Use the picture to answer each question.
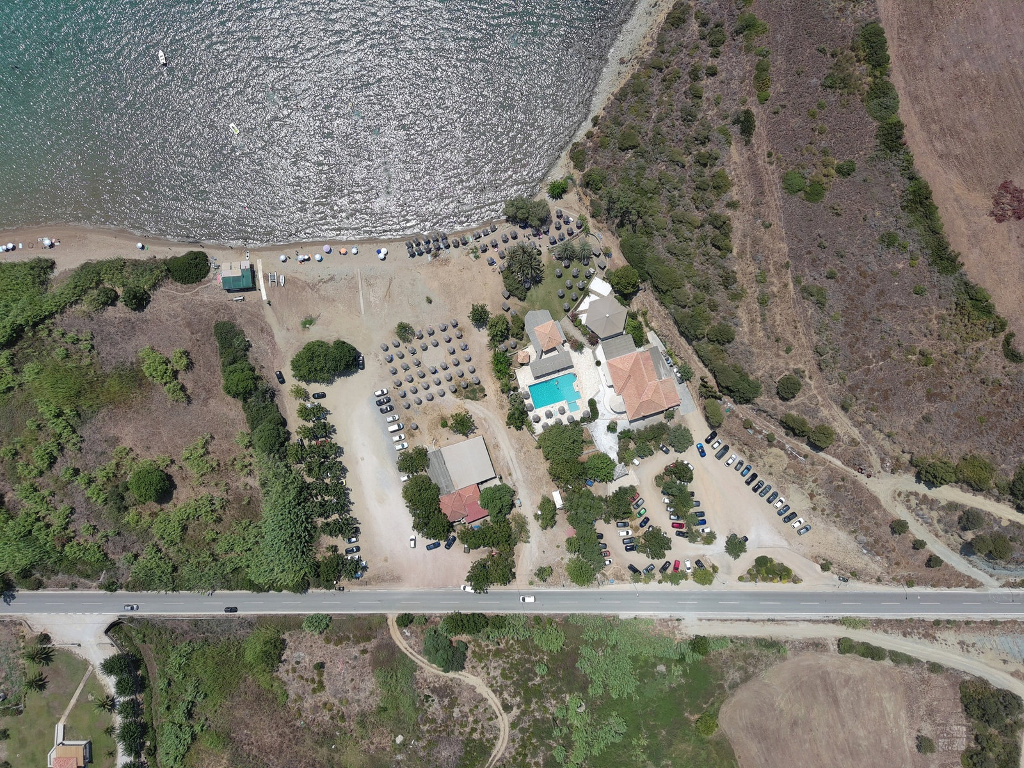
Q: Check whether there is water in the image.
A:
Yes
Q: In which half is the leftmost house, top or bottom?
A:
bottom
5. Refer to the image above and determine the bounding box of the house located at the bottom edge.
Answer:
[48,721,96,768]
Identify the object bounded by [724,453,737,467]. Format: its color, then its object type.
white vehicle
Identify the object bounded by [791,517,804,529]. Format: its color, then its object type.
white vehicle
